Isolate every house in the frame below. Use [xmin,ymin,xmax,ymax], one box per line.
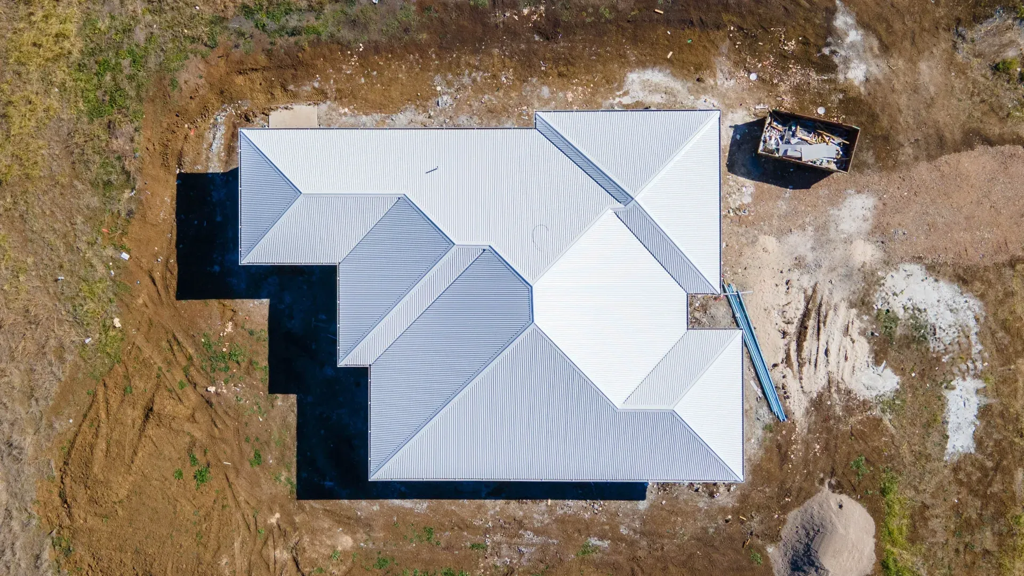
[239,110,743,481]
